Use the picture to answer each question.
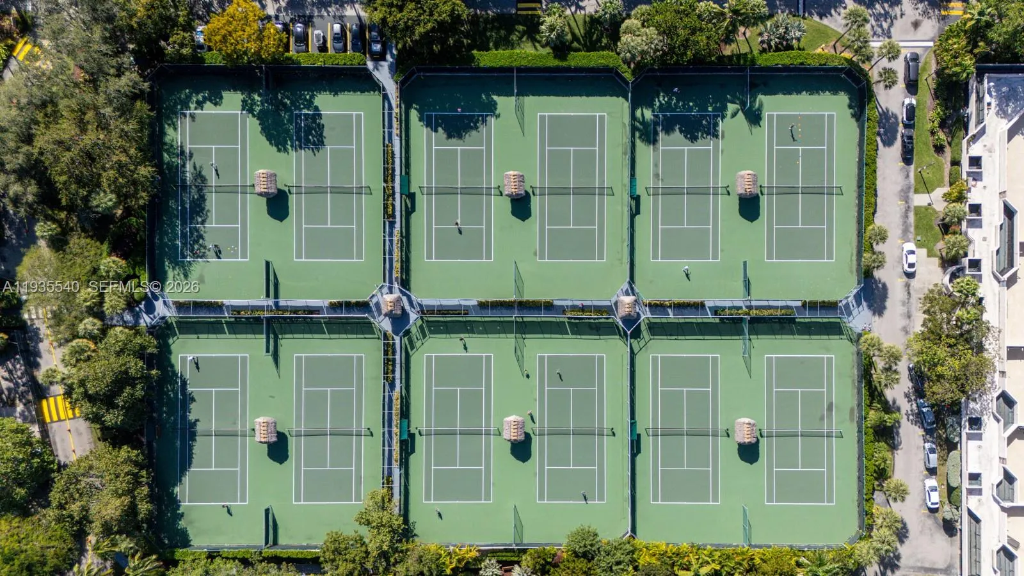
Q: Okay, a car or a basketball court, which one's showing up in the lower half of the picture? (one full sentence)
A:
Looking in the lower half of the picture, you will find a car.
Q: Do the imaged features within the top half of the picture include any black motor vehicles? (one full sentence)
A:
Yes, looking within the top half of the picture, one can make out a black motor vehicle.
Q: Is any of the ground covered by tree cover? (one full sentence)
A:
Yes, there's tree cover in this view.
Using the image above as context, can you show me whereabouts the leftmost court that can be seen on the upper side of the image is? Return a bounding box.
[157,72,271,299]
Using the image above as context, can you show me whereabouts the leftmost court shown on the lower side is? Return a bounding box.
[158,316,271,545]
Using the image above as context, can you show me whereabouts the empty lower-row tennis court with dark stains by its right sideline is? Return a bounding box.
[743,317,857,545]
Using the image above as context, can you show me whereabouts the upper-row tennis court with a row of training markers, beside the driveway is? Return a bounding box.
[743,73,857,299]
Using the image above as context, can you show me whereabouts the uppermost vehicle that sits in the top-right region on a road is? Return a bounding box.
[903,52,921,85]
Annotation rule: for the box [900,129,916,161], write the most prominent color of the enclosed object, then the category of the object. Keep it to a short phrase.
black car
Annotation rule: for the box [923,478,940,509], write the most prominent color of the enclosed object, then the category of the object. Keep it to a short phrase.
white car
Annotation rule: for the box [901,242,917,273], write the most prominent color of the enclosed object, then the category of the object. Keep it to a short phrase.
white car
